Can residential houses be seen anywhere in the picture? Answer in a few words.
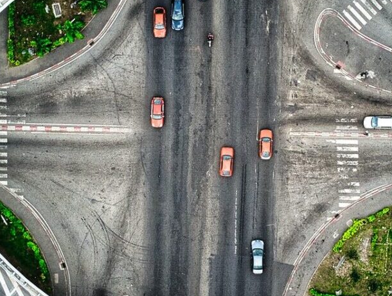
No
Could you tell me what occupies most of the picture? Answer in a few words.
paved ground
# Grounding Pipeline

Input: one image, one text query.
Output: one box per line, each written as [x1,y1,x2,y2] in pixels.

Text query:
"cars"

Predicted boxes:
[259,129,273,160]
[250,240,267,275]
[169,0,185,31]
[220,147,234,179]
[365,115,392,129]
[151,7,166,38]
[150,97,164,128]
